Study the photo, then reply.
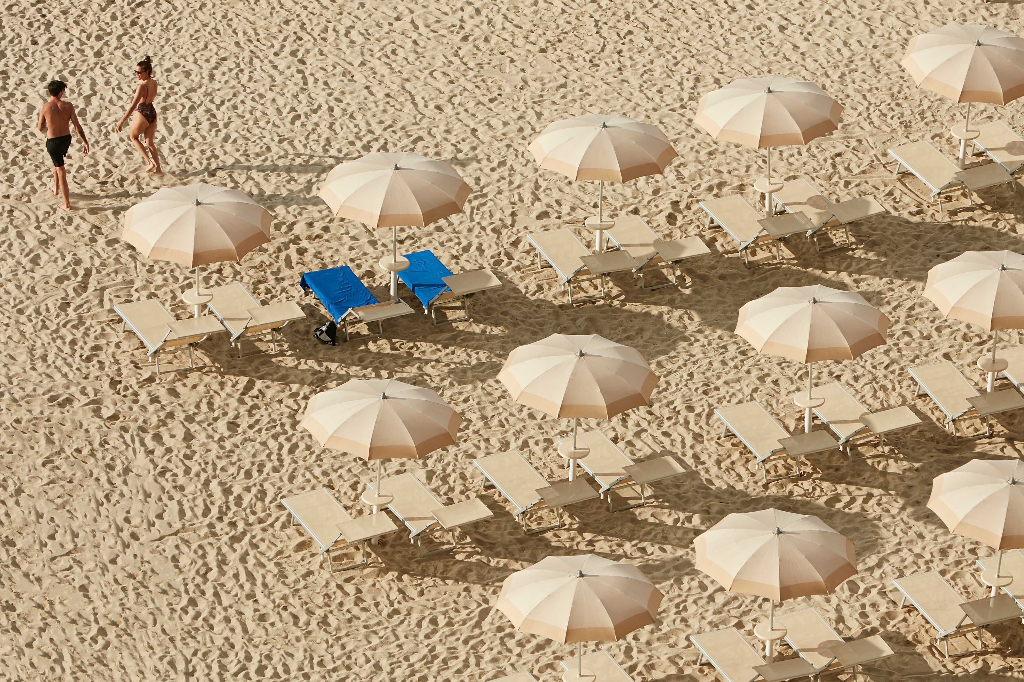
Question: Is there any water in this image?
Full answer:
No, there's no water in this view.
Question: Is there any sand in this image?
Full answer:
Yes, there's sand in this view.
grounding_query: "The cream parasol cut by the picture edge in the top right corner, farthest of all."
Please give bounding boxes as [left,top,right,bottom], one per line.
[899,24,1024,170]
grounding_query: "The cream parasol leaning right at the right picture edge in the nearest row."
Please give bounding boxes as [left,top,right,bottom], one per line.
[926,460,1024,597]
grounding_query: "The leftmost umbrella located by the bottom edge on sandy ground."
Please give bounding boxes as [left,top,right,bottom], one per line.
[494,554,664,682]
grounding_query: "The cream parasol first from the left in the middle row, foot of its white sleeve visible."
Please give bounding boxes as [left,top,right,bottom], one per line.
[300,379,464,516]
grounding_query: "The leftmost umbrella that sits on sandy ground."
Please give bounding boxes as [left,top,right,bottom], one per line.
[120,183,273,317]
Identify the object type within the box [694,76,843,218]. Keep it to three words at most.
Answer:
umbrella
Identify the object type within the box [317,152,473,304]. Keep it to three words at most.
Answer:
umbrella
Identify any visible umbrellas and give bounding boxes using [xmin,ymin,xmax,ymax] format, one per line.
[527,113,680,253]
[300,379,464,516]
[497,334,660,481]
[922,249,1024,394]
[694,76,843,218]
[695,509,858,663]
[317,152,473,304]
[494,554,664,682]
[120,183,273,317]
[926,460,1024,597]
[899,24,1024,170]
[734,285,891,434]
